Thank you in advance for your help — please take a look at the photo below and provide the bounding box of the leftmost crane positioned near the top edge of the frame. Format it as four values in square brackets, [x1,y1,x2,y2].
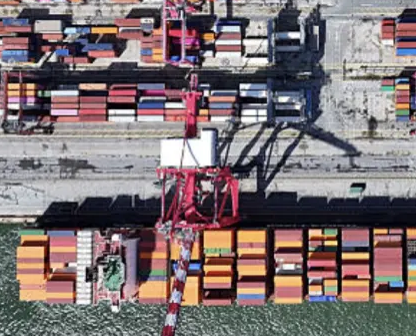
[162,0,203,69]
